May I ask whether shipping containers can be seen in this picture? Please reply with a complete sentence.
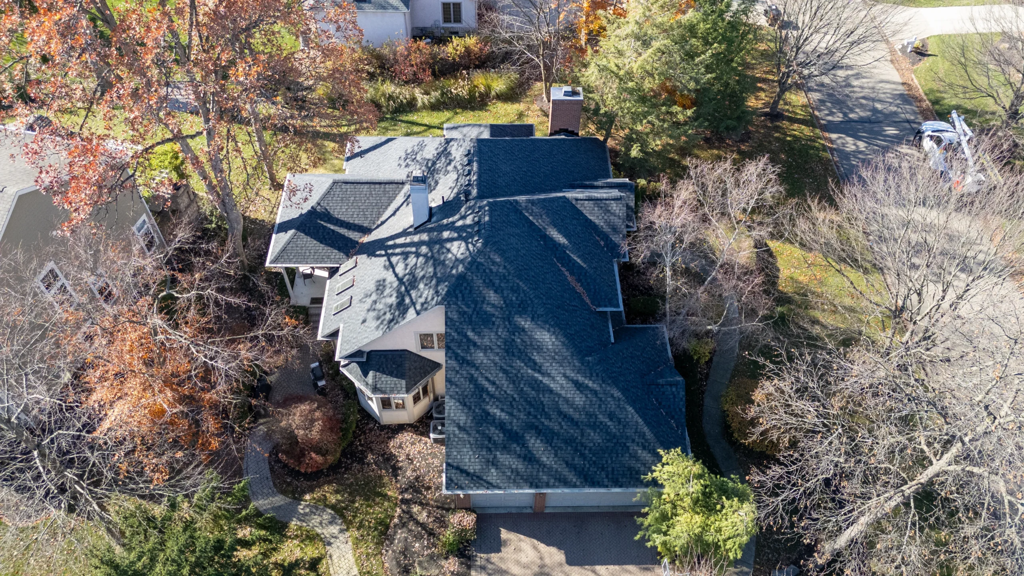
No, I can see no shipping container in this picture.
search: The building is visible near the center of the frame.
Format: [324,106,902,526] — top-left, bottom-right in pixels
[264,84,691,518]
